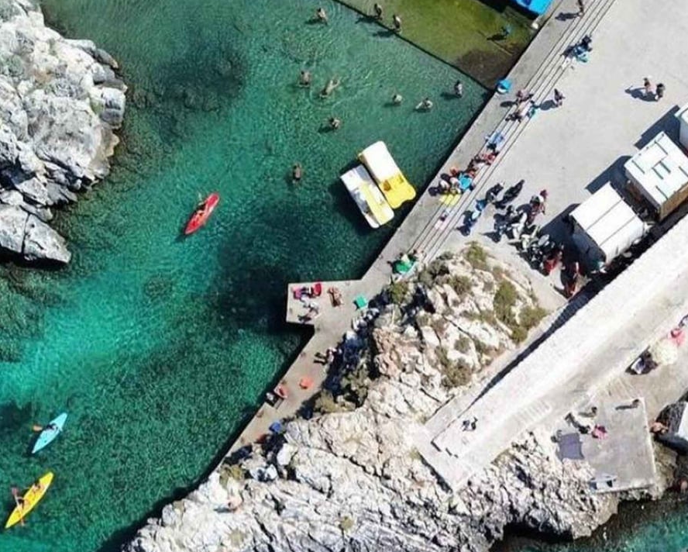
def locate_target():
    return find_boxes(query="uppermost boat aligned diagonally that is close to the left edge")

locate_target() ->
[30,411,67,455]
